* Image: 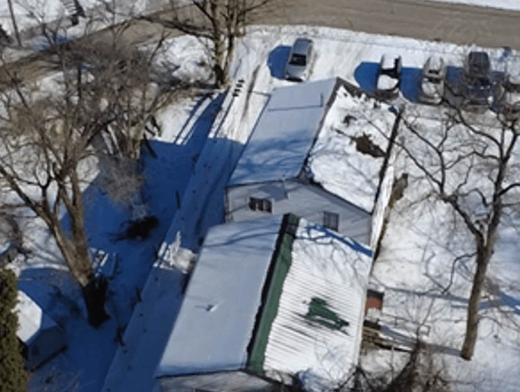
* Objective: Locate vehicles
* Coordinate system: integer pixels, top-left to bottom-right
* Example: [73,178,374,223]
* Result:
[283,41,315,76]
[373,58,401,96]
[501,71,520,109]
[464,55,495,104]
[418,63,446,102]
